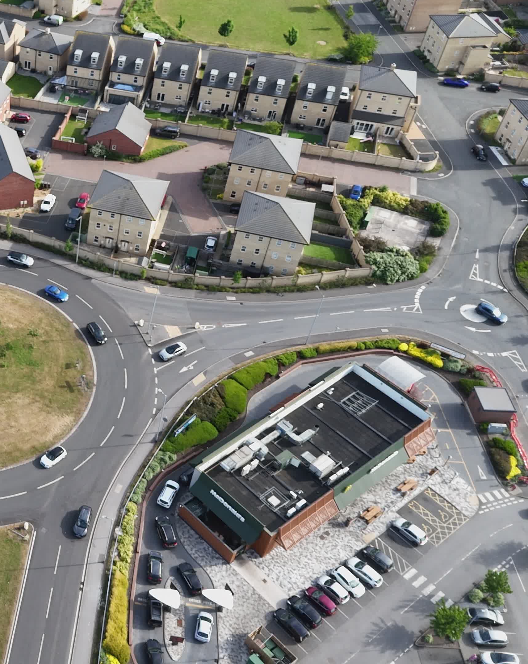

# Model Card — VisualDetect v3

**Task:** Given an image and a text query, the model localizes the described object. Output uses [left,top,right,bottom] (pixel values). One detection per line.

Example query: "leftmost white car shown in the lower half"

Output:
[38,445,69,470]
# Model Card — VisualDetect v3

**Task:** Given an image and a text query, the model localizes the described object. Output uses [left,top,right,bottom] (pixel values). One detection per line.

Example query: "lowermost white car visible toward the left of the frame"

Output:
[193,608,217,647]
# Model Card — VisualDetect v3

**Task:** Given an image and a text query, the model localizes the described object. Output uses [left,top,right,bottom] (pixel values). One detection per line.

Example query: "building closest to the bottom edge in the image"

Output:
[243,623,299,664]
